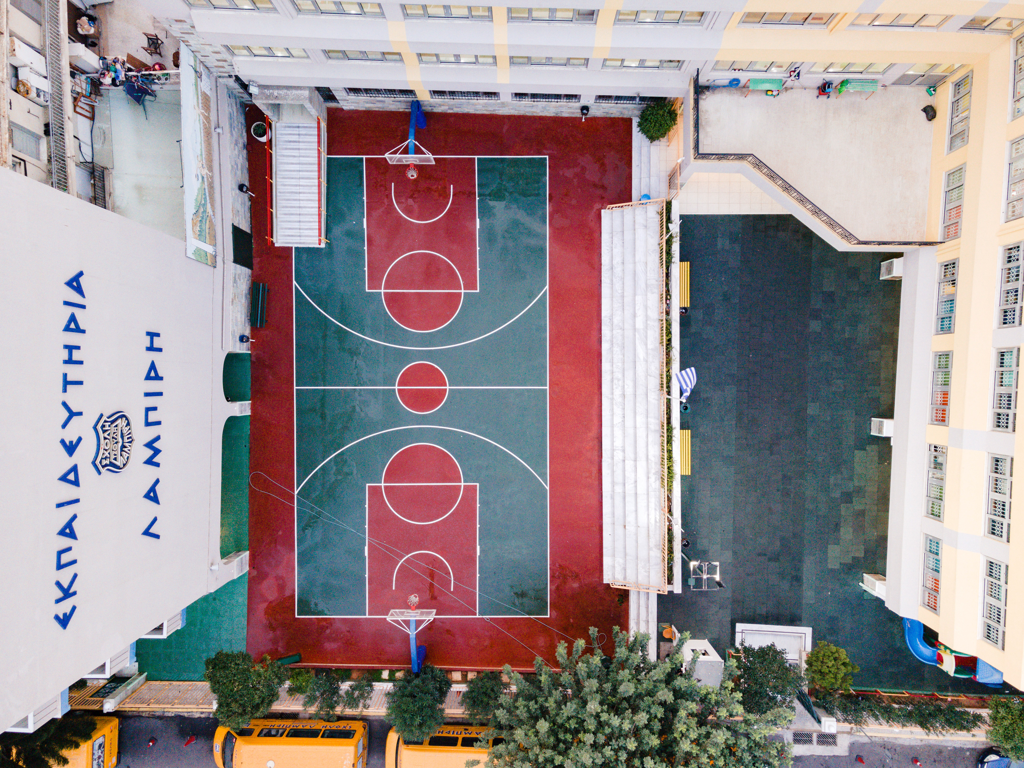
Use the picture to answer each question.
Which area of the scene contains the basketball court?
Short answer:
center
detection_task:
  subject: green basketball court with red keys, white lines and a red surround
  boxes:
[247,106,631,669]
